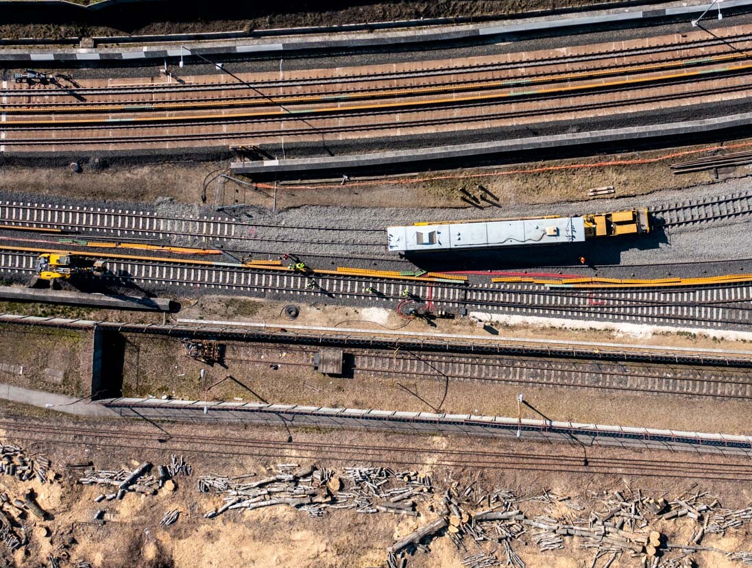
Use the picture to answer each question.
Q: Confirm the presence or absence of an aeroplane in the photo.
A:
No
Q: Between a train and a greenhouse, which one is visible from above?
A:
train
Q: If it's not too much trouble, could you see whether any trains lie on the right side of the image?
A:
Yes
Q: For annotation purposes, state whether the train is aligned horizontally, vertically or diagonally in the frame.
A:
horizontally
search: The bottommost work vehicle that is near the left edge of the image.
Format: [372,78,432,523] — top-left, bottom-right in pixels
[29,252,105,290]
